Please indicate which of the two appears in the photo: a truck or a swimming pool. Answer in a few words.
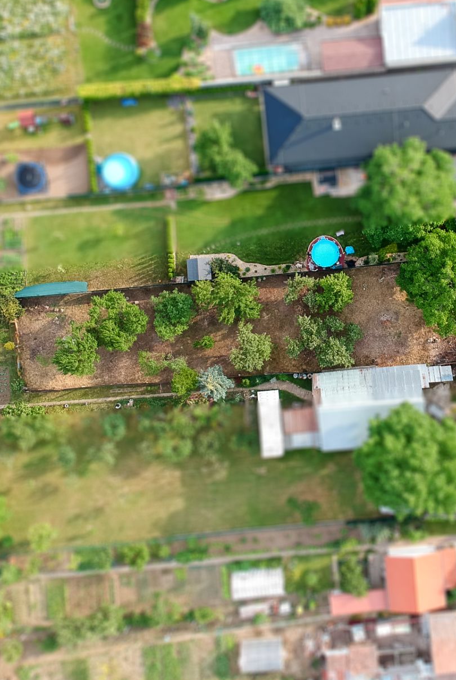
swimming pool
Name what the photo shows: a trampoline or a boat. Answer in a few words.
trampoline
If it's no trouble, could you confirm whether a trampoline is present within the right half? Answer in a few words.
No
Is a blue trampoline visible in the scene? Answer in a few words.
Yes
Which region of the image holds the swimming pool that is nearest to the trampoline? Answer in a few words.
top left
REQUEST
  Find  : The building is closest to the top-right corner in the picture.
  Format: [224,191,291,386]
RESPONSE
[380,0,456,71]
